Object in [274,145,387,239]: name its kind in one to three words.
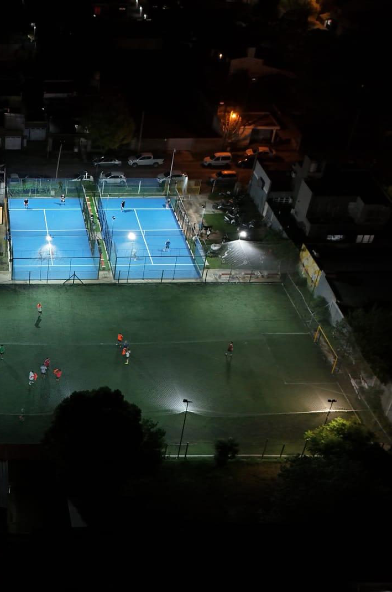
house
